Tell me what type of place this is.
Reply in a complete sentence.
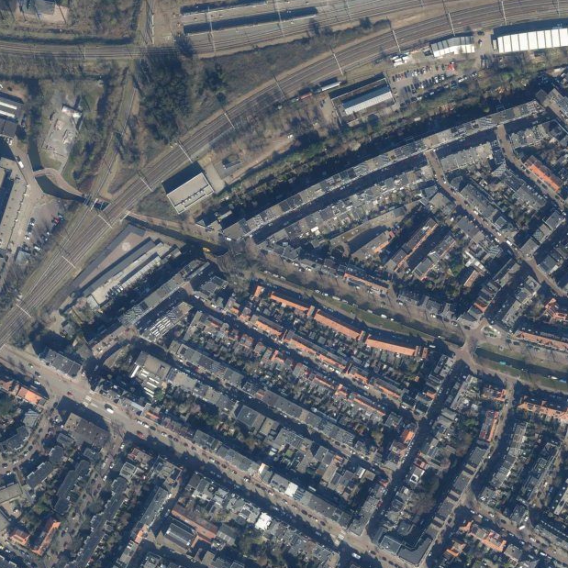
What you see here is a residential area.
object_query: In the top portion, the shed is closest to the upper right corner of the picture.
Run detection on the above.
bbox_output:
[526,29,568,50]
